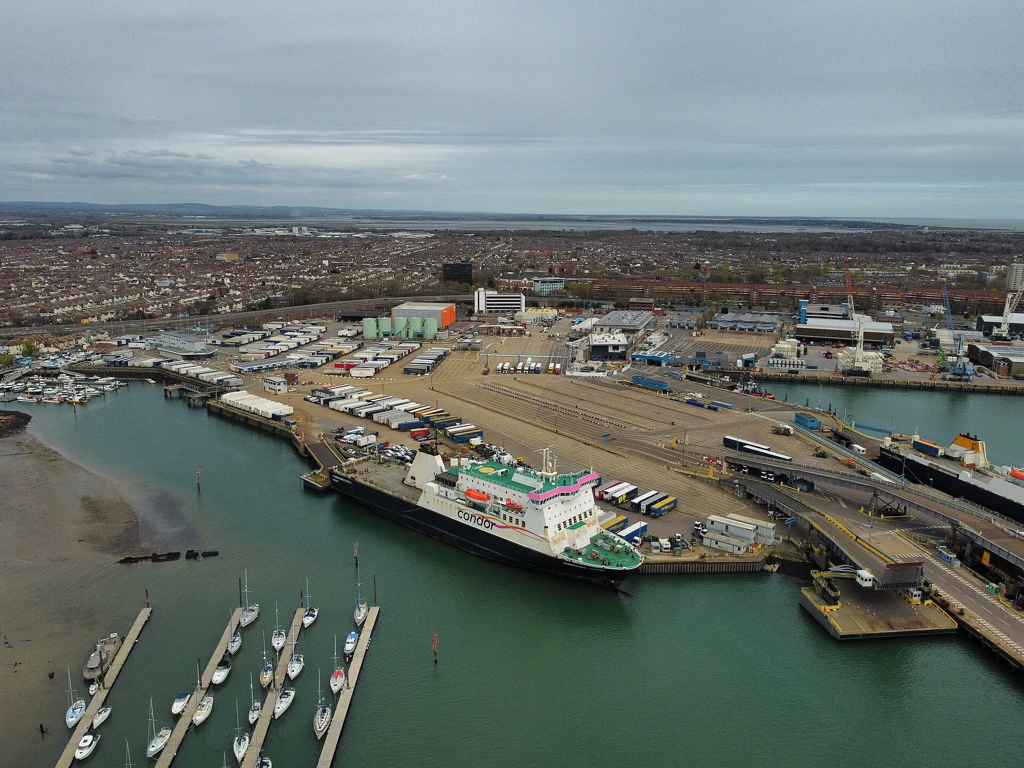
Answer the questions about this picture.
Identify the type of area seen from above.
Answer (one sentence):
This image shows a port.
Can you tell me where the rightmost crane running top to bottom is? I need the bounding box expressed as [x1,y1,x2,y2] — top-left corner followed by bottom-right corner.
[990,272,1024,342]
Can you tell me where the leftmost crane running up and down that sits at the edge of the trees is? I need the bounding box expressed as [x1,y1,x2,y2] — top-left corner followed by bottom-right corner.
[838,258,878,375]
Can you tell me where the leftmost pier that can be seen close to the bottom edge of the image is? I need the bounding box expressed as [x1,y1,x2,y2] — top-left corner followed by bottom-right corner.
[59,608,152,768]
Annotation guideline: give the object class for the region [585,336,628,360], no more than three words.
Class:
building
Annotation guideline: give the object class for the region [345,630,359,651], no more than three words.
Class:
boat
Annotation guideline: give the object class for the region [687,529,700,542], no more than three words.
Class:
vehicle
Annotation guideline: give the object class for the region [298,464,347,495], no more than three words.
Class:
pier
